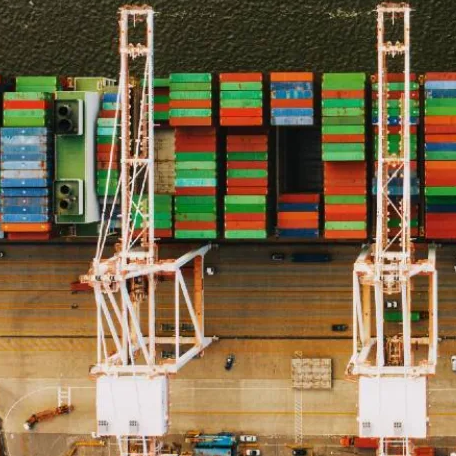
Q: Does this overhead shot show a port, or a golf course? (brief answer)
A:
port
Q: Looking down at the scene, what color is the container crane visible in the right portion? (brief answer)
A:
white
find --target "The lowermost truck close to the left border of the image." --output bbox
[20,403,73,432]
